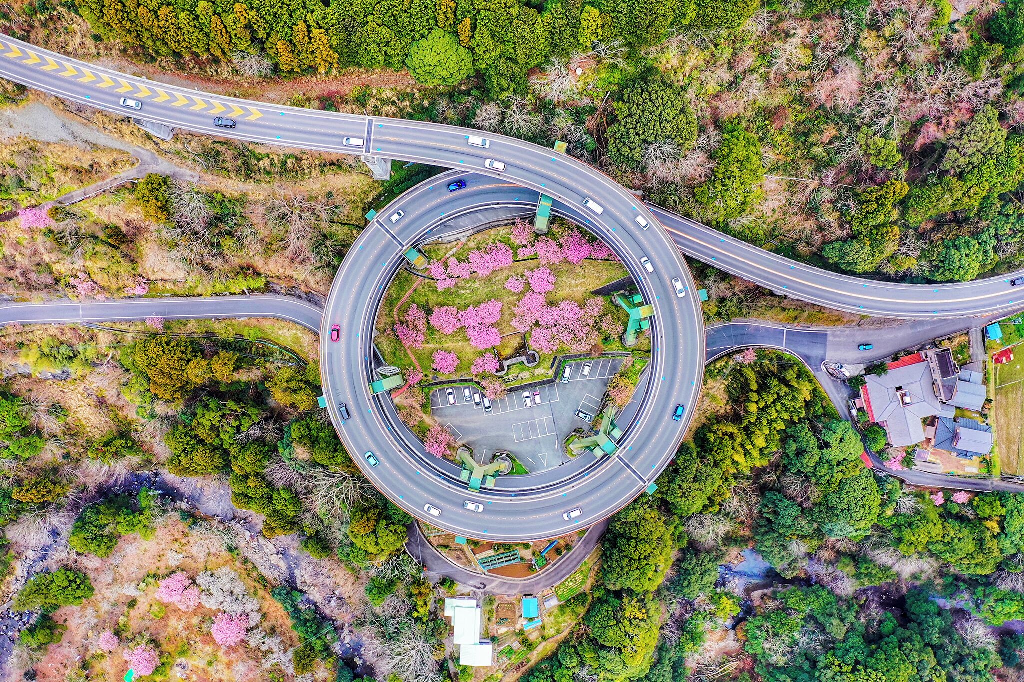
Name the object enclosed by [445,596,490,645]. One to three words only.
house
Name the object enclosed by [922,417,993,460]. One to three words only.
house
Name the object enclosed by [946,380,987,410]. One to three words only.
shed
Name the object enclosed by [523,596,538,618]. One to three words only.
shed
